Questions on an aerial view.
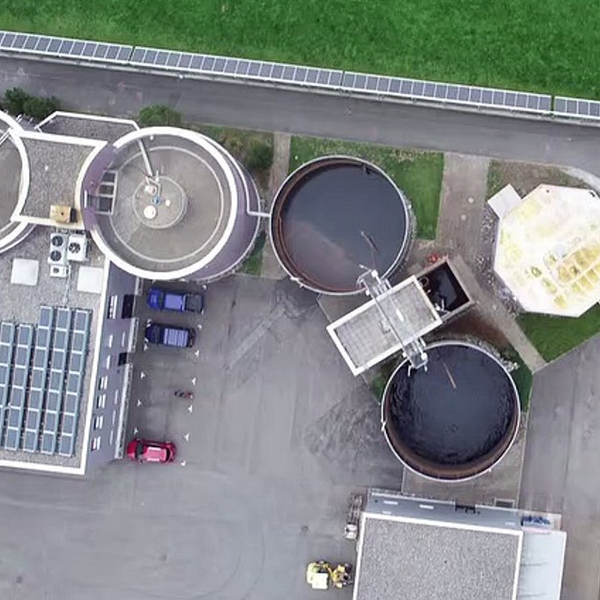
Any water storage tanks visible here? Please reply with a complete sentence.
Yes, the image includes a water storage tank.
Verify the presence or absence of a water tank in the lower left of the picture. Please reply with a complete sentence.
No, no water tank can be made out in the lower left of the picture.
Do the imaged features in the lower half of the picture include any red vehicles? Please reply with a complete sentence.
Yes, a red vehicle appears in the lower half of the picture.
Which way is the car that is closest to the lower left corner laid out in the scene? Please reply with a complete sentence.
The car that is closest to the lower left corner is oriented from side to side.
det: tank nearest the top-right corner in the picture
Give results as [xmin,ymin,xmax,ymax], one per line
[271,155,412,295]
